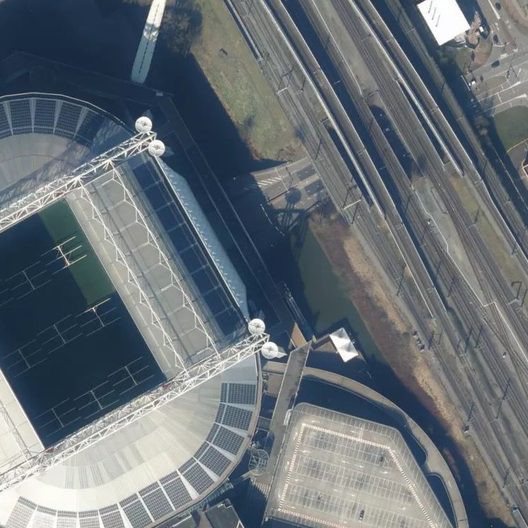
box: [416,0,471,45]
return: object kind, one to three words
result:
building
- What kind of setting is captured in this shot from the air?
sports ground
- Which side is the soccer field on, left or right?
left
